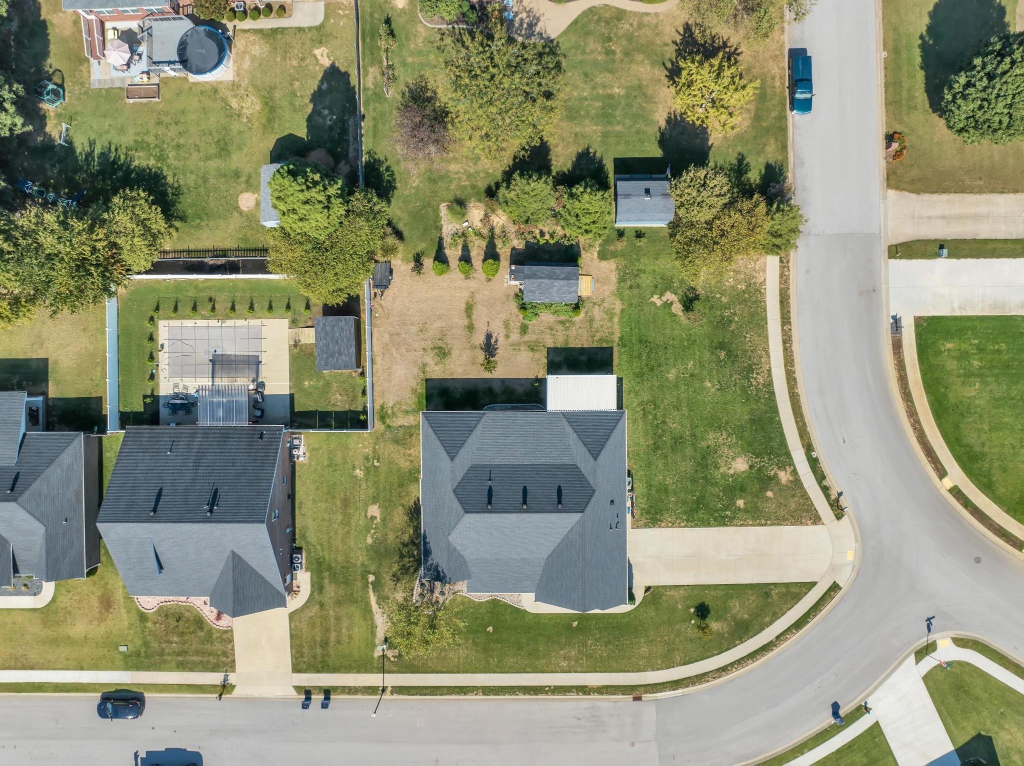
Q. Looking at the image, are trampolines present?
Yes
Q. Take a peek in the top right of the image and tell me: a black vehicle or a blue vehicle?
blue vehicle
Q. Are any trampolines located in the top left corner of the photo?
Yes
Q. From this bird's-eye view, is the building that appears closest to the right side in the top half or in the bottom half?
top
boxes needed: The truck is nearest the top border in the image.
[789,57,816,119]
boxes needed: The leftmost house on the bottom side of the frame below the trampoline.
[0,391,105,589]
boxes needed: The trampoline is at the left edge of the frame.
[27,74,65,105]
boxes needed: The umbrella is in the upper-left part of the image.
[104,40,130,67]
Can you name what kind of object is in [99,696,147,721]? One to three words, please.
car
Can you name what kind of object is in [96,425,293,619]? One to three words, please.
house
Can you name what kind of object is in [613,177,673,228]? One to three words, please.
building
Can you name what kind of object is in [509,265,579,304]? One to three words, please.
shed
